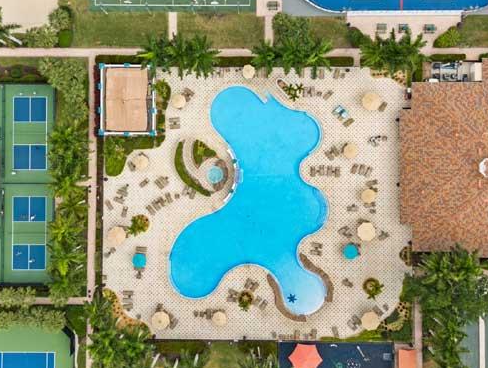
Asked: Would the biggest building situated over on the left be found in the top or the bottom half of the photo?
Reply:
top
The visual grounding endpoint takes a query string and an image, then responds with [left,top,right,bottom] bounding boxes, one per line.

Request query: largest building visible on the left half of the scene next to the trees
[97,63,156,136]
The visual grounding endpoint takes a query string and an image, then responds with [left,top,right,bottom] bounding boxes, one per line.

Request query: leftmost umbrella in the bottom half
[106,227,125,245]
